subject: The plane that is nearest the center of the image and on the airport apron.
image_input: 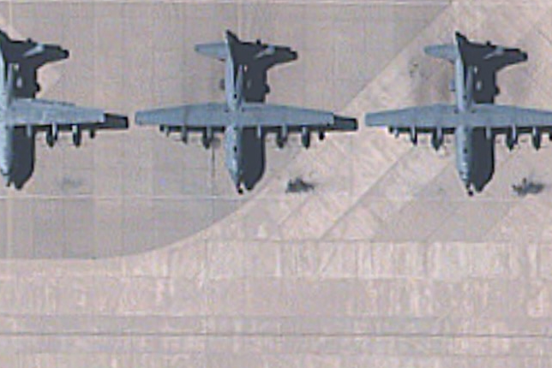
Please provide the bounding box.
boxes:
[134,29,333,193]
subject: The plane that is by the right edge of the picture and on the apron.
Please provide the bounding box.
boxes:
[365,30,552,194]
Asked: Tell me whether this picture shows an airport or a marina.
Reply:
airport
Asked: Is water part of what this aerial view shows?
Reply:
No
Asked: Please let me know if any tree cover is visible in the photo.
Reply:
No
